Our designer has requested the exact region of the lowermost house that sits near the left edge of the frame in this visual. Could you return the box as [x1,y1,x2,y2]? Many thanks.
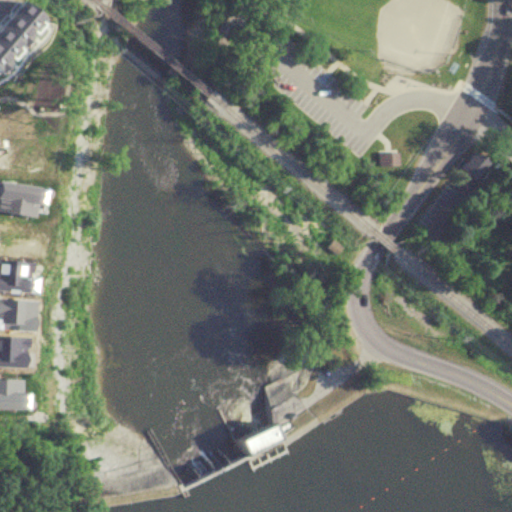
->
[0,380,46,424]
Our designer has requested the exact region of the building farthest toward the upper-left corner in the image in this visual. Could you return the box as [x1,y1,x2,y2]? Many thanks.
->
[0,0,52,86]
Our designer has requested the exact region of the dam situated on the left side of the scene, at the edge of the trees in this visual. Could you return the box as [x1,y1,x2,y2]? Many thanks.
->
[97,428,252,506]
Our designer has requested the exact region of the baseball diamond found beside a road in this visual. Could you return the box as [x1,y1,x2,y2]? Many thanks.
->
[377,0,463,76]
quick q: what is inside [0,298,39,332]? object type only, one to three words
house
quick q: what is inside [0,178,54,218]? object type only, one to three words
house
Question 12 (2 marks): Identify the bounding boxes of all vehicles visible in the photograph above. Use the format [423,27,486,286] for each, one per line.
[360,294,367,308]
[318,90,332,97]
[280,84,295,91]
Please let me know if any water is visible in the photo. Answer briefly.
Yes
